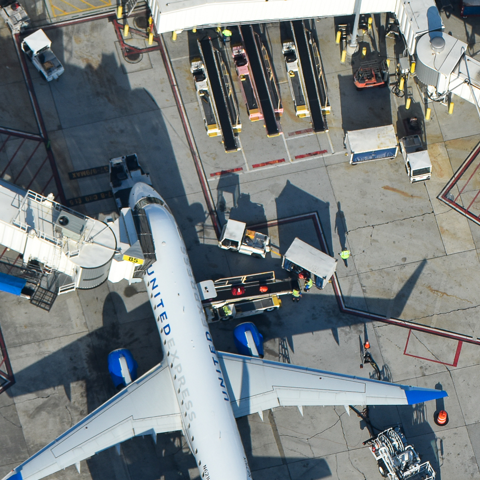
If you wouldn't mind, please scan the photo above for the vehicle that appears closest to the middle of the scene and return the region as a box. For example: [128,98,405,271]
[214,221,273,265]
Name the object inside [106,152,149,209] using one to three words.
work vehicle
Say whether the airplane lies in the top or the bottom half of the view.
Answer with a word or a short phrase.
bottom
